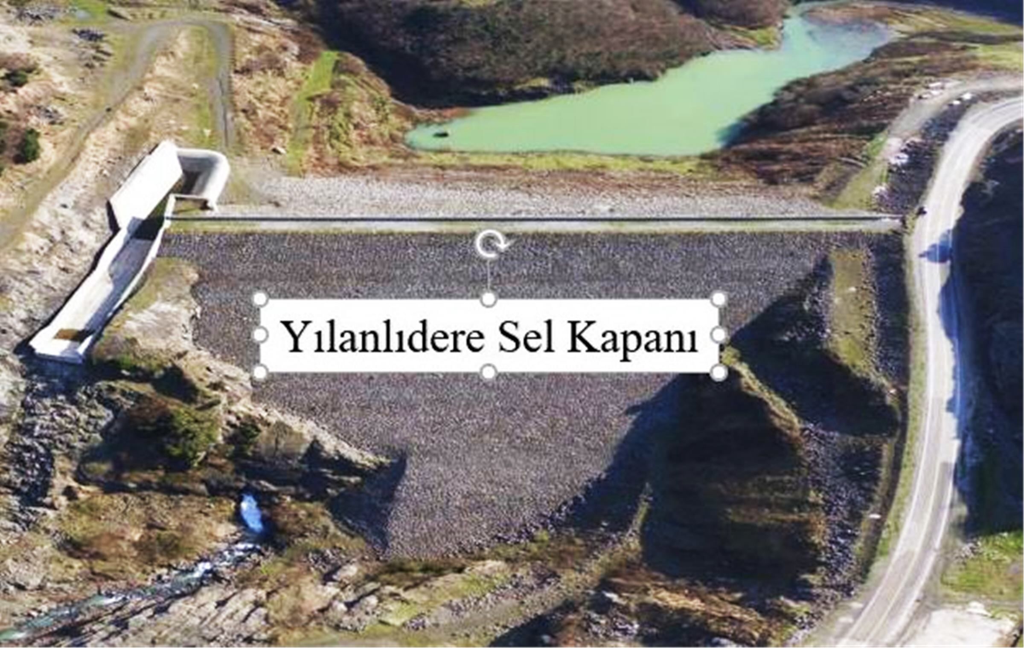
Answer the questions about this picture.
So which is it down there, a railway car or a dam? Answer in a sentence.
There is a dam in the scene.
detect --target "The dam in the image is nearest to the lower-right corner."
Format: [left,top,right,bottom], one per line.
[171,179,915,560]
